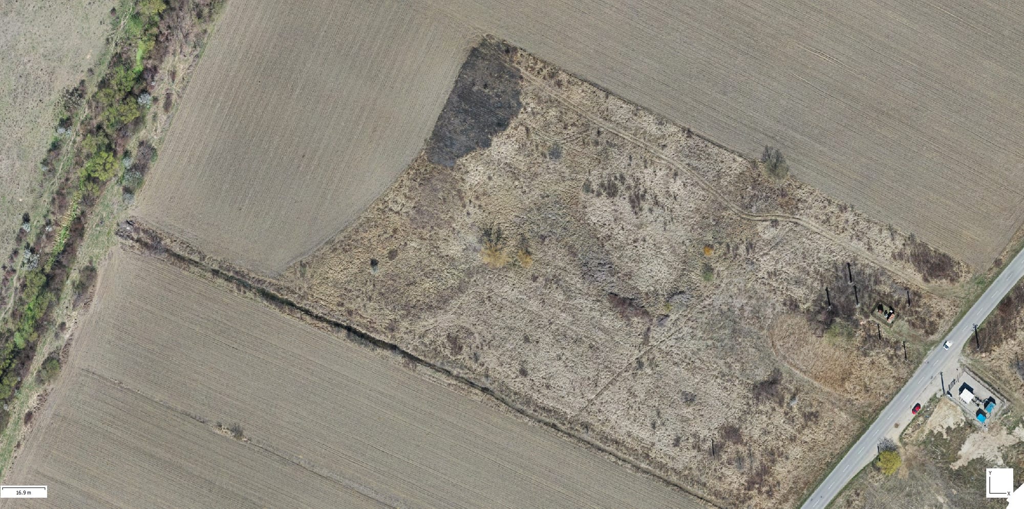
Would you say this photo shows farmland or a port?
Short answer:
farmland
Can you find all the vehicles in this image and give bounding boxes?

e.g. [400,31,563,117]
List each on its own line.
[912,404,921,414]
[943,340,952,351]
